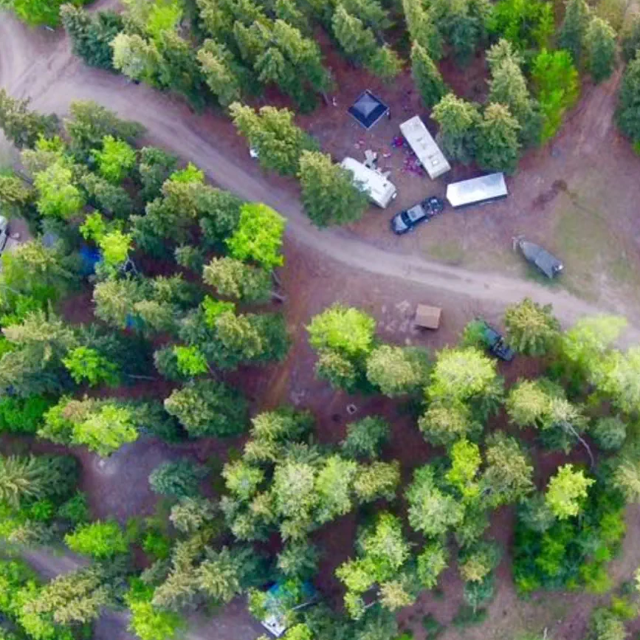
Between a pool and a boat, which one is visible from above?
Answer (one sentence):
I can see a boat in this picture.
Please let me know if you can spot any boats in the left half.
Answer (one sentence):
No, there is no boat in the left half.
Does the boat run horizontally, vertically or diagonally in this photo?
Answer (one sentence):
The boat is oriented diagonally.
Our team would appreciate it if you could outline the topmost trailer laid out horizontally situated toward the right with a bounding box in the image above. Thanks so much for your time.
[440,171,509,205]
